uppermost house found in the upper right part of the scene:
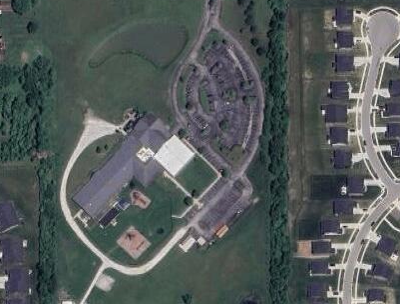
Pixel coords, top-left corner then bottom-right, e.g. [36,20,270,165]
[336,5,354,27]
